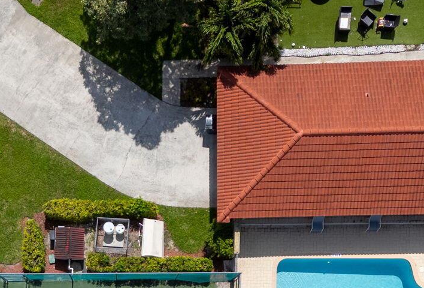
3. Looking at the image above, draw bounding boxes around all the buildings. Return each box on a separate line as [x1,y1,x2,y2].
[216,60,424,224]
[55,227,85,277]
